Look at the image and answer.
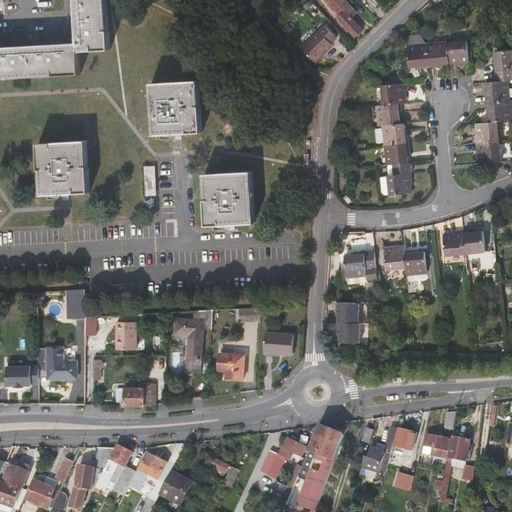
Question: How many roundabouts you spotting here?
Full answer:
I count 1 roundabout.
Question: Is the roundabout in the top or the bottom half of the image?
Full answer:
Seen from above, the roundabout lies in the bottom half of the view.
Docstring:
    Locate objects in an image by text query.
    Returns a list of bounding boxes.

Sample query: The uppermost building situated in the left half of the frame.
[70,0,110,54]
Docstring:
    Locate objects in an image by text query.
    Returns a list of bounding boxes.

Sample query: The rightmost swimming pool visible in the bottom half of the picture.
[47,302,64,318]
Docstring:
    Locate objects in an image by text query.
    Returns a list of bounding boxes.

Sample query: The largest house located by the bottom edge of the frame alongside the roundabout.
[297,446,333,512]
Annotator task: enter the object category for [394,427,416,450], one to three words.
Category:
house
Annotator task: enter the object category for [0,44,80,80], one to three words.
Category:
building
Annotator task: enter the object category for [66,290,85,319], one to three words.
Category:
building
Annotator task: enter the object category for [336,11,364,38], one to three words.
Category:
house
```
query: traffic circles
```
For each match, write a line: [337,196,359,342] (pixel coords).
[290,364,346,420]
